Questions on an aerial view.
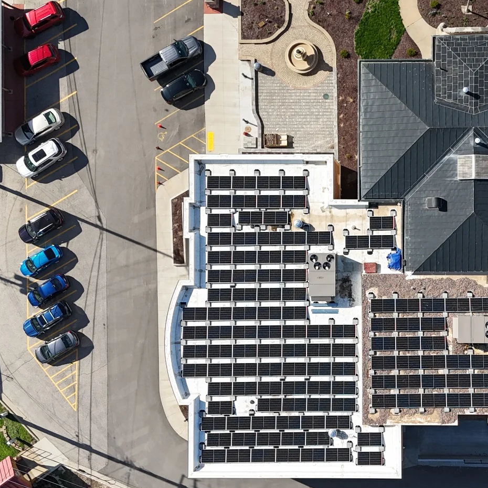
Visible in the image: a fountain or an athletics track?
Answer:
fountain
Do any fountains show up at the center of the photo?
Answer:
No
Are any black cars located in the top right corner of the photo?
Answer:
No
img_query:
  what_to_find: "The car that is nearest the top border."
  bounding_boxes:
[16,0,68,40]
